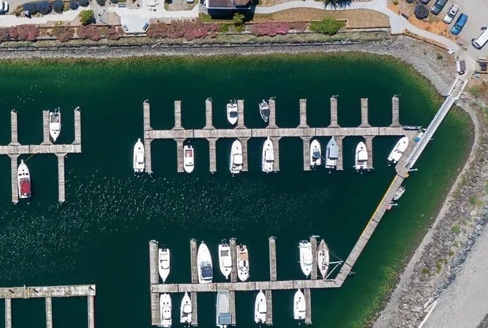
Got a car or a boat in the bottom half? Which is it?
boat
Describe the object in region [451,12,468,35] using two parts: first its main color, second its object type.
blue car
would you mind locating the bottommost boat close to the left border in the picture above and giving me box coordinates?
[16,159,31,198]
